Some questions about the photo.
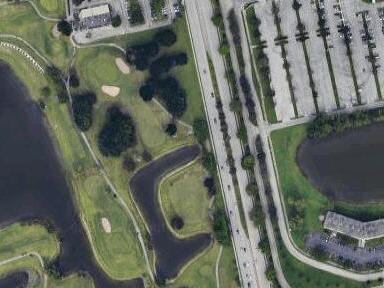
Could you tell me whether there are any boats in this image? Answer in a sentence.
No, I can see no boat in this picture.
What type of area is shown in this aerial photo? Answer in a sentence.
The picture captures a golf course.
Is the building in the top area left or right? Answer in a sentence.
You can find the building in the top area on the left side of the picture.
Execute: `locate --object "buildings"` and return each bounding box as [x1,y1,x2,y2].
[79,4,111,29]
[323,211,384,245]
